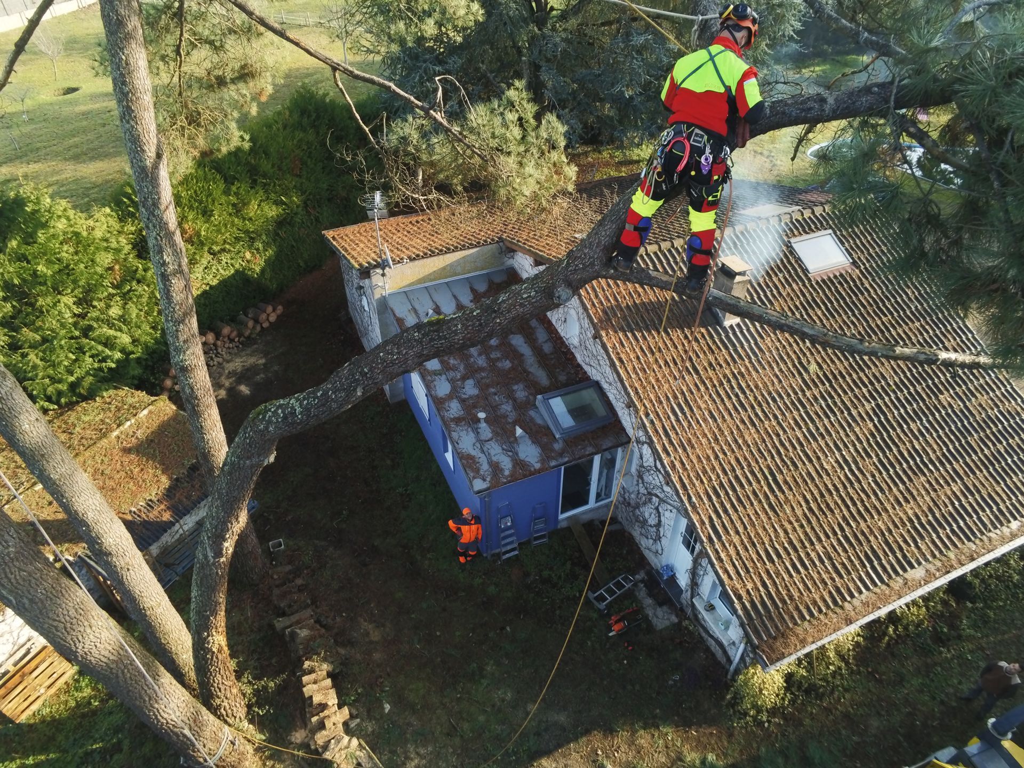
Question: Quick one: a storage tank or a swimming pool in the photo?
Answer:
swimming pool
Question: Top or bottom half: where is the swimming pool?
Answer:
top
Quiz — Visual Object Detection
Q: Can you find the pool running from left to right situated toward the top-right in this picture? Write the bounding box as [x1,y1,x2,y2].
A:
[820,127,1021,187]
